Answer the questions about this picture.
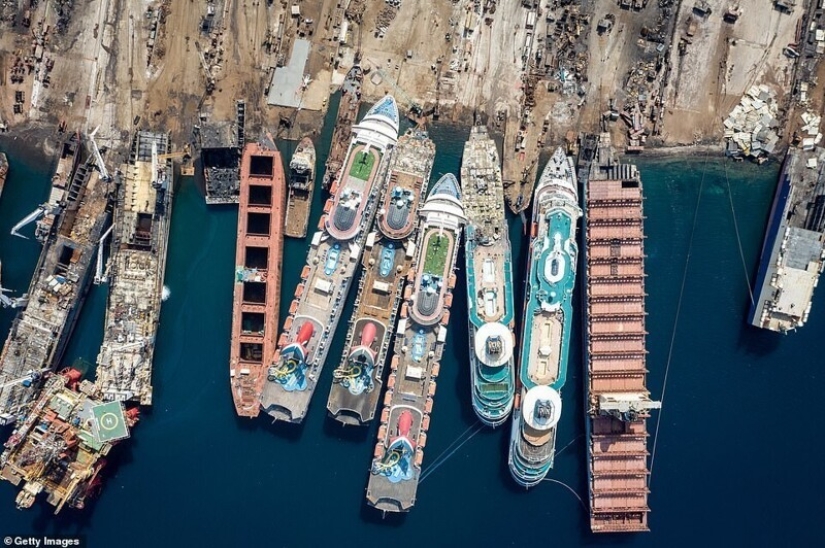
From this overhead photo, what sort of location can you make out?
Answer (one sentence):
This looks like a port.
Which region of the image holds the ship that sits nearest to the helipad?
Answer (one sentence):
Look in the left portion of the view to spot the ship that sits nearest to the helipad.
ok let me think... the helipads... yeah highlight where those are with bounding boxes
[90,398,137,445]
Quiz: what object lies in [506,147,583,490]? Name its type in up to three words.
ship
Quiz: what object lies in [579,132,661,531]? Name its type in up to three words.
ship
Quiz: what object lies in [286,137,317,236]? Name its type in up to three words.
vessel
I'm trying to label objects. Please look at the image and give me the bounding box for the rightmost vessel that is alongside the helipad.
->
[93,131,173,405]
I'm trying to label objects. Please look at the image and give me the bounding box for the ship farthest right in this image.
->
[748,147,825,332]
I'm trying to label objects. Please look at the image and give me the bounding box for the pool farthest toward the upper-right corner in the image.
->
[545,249,567,283]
